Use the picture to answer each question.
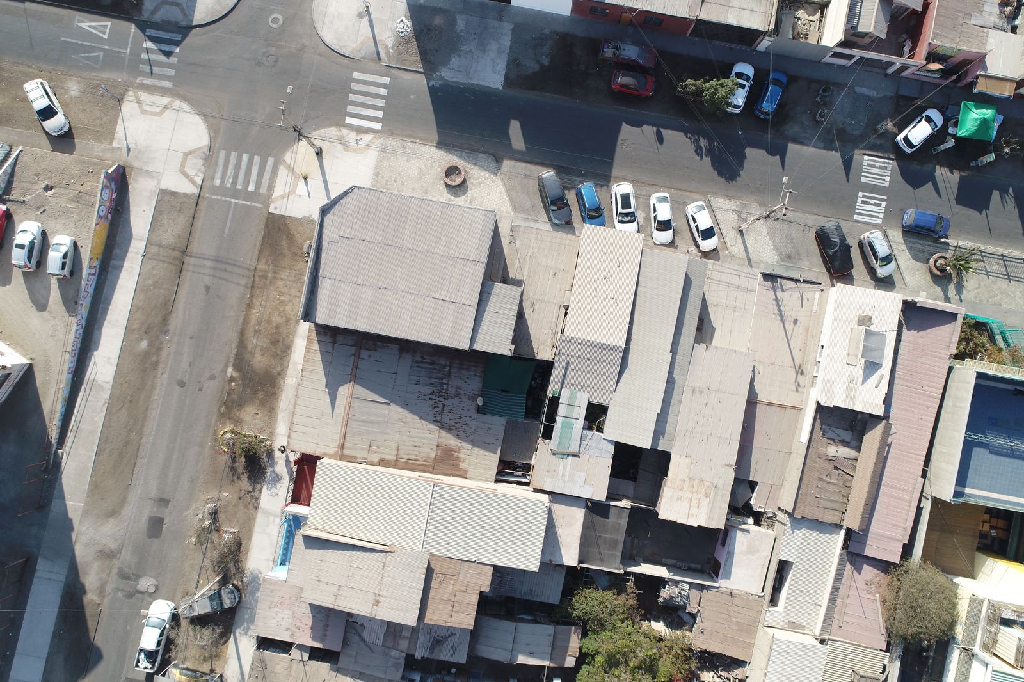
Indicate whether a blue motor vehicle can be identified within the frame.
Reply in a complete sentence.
Yes, this view includes a blue motor vehicle.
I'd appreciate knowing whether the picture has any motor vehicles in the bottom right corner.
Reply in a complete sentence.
No, no motor vehicle appears in the bottom right corner.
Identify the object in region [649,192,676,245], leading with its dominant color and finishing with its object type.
white car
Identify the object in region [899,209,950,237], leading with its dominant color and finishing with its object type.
blue car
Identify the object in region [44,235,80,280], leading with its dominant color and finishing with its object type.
white car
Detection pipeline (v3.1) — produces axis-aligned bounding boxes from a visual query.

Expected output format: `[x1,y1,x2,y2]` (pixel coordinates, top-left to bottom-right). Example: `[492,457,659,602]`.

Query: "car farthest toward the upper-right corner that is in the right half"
[892,108,943,157]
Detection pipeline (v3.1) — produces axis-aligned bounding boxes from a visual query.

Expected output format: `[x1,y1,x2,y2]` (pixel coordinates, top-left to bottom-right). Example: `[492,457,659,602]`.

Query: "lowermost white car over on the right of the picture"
[857,229,894,279]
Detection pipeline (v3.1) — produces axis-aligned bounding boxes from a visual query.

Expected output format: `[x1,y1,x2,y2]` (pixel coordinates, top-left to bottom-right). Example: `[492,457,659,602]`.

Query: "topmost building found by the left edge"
[0,341,32,403]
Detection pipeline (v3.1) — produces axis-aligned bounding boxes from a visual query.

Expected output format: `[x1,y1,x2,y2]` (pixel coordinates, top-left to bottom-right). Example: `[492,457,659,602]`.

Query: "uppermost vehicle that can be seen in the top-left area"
[21,78,72,137]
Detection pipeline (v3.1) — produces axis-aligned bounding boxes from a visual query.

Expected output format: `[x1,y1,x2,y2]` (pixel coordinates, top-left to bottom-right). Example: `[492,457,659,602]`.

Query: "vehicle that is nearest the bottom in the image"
[135,600,176,673]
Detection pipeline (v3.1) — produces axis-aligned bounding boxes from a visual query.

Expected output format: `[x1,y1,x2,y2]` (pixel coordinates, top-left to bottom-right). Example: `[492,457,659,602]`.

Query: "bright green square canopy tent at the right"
[941,101,998,151]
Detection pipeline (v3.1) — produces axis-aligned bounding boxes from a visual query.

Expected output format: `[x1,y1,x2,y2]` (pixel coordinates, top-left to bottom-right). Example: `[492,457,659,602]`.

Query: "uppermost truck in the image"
[599,39,658,71]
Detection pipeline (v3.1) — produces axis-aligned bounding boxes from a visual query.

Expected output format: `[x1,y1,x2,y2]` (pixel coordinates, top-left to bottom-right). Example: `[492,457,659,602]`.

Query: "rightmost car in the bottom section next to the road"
[181,582,241,617]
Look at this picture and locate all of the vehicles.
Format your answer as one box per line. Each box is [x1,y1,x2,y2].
[892,108,943,157]
[725,61,757,117]
[536,168,571,226]
[9,221,48,273]
[599,39,658,71]
[857,229,894,279]
[610,182,639,233]
[751,69,786,122]
[181,582,241,617]
[649,192,676,245]
[135,600,176,673]
[44,235,80,280]
[574,181,606,227]
[899,209,950,237]
[608,70,658,99]
[684,199,718,253]
[814,221,852,278]
[21,78,72,137]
